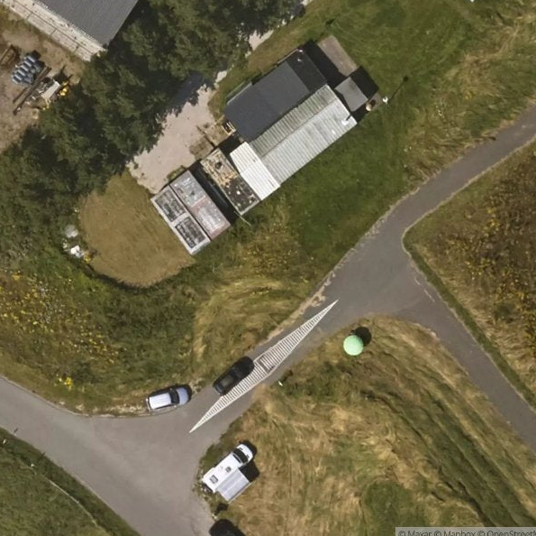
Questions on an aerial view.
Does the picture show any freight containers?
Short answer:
Yes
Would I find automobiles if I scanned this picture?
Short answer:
Yes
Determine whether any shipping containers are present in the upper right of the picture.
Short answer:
No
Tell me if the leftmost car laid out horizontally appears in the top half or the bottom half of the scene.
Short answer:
bottom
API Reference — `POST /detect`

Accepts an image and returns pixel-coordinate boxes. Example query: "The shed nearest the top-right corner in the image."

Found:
[335,76,369,113]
